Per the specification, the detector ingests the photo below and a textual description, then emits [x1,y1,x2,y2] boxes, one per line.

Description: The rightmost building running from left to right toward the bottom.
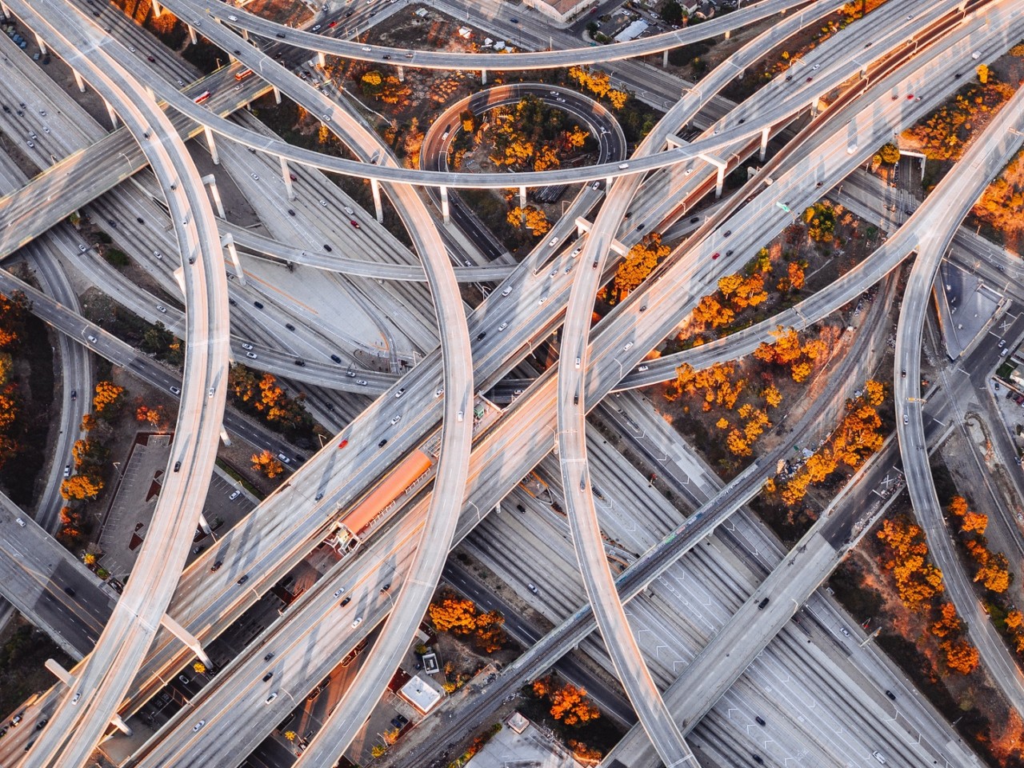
[466,713,601,768]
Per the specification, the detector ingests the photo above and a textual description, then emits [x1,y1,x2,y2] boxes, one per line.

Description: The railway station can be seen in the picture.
[331,428,441,560]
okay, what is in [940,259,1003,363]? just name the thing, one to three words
building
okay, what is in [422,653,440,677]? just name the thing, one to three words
building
